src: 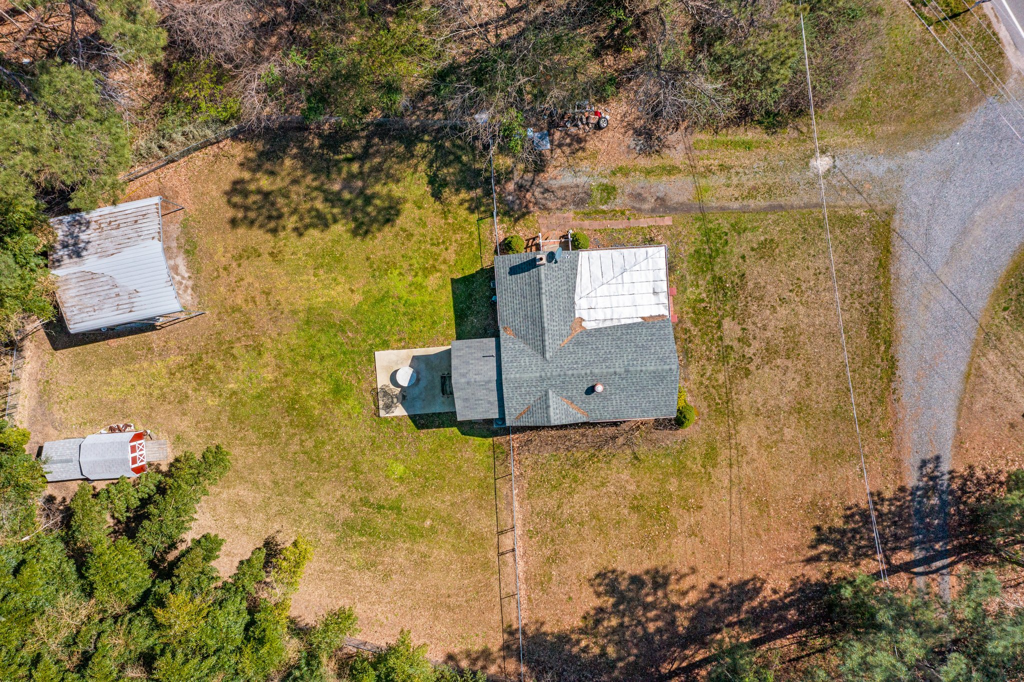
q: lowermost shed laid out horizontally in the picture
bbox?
[36,435,149,489]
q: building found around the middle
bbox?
[452,243,678,429]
